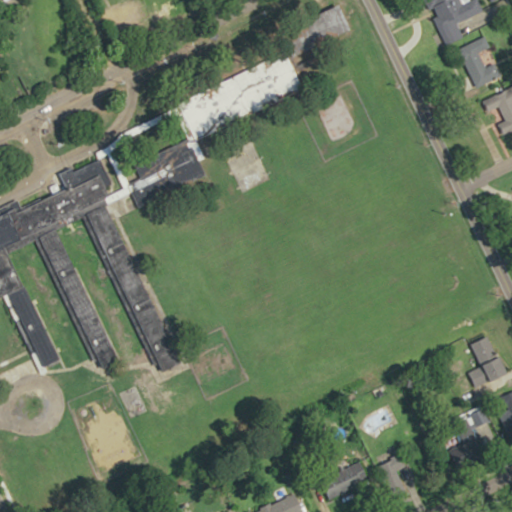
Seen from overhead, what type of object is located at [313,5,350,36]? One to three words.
building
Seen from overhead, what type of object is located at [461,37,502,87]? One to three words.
house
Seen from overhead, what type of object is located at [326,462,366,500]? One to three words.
house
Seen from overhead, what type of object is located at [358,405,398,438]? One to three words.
swimming pool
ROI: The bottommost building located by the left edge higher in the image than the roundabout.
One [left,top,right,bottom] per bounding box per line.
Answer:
[0,161,178,375]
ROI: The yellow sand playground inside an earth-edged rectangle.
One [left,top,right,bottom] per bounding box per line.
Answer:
[68,383,148,470]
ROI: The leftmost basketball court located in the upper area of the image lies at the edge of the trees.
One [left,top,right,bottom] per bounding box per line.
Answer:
[228,142,270,192]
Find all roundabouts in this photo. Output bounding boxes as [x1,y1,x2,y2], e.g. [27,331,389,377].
[0,374,64,436]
